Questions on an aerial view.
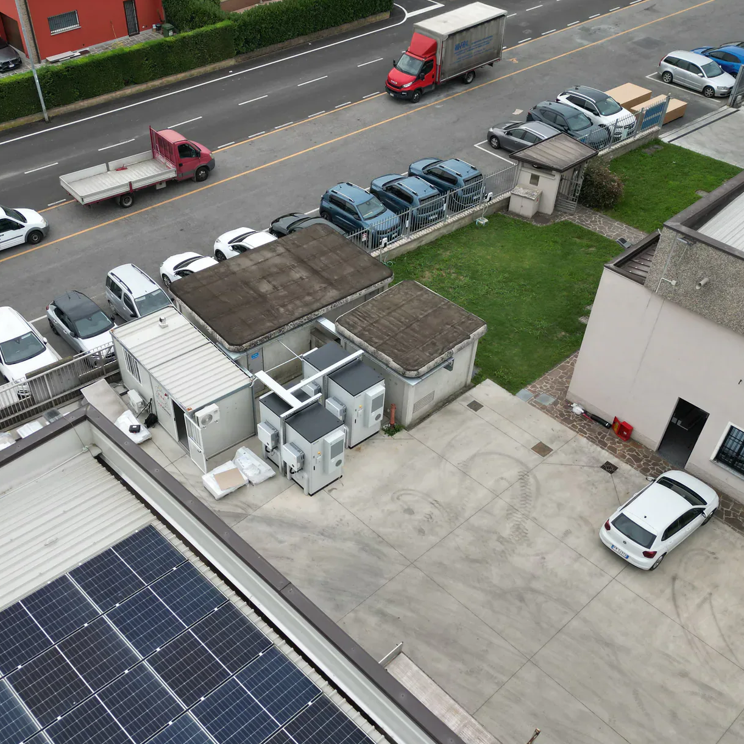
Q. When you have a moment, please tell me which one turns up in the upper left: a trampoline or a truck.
truck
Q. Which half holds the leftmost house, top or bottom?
top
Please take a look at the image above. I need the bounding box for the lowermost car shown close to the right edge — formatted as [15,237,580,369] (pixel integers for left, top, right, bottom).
[594,469,723,574]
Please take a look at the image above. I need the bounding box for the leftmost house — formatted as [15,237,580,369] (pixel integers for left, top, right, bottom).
[0,0,130,64]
